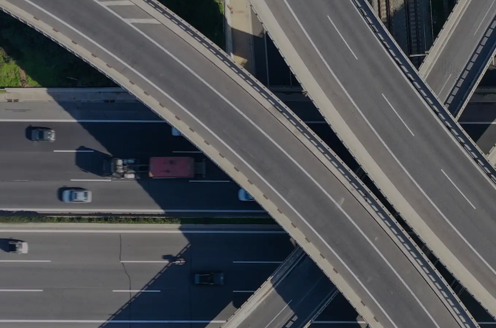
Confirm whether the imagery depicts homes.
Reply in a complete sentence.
No, the scene contains no home.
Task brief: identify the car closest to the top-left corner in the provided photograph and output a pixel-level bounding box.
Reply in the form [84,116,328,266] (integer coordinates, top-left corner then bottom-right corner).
[31,128,57,143]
